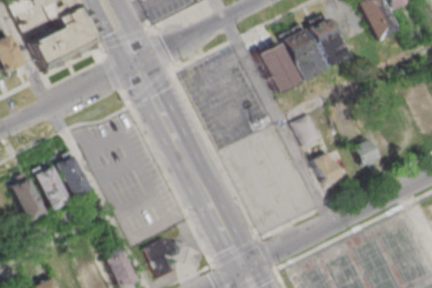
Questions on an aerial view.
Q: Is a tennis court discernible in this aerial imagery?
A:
Yes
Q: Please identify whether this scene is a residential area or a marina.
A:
residential area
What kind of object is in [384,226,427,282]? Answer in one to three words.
tennis court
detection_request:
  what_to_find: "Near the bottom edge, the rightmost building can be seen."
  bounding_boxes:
[142,239,179,278]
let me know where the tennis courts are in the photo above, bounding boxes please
[356,240,400,288]
[327,254,365,288]
[299,267,329,288]
[384,226,427,282]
